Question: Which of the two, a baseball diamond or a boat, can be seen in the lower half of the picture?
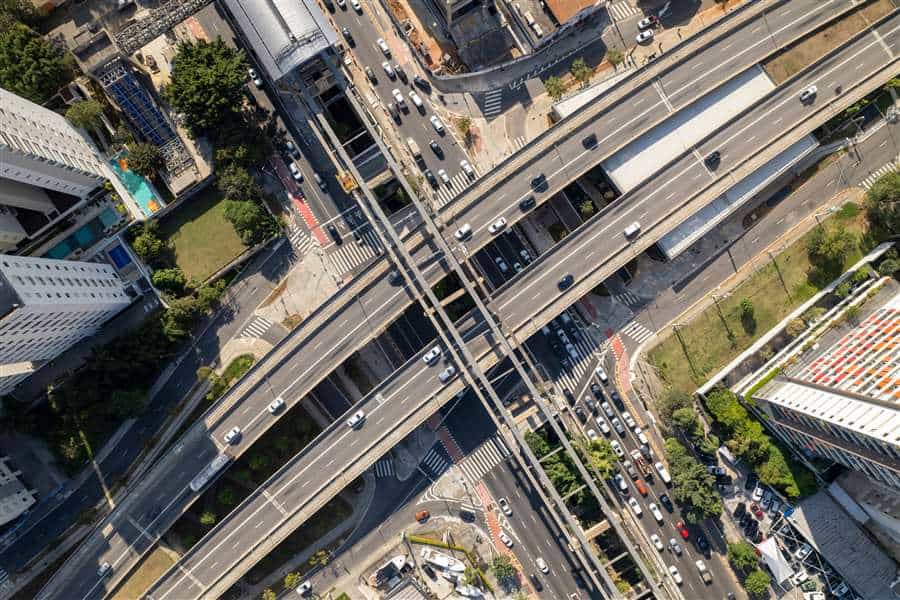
boat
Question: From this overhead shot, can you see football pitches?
No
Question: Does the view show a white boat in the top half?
No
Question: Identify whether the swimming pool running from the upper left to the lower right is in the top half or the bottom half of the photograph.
top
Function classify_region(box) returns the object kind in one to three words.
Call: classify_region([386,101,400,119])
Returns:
car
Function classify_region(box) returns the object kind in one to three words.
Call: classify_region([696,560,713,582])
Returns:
vehicle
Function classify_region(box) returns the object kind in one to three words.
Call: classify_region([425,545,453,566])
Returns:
boat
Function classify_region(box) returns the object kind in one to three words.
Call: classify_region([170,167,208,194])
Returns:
house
